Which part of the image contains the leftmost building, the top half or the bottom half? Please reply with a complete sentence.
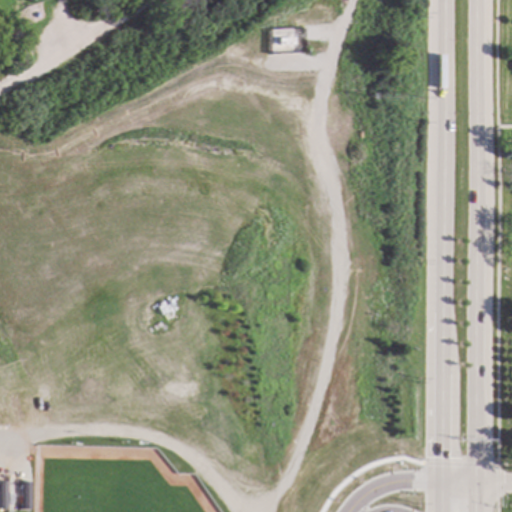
The leftmost building sits in the top half of the picture.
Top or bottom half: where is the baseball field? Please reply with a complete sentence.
The baseball field sits in the bottom half of the picture.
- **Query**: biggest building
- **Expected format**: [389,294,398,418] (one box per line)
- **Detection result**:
[270,27,304,52]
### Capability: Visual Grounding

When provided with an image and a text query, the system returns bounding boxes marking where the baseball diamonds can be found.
[36,445,223,512]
